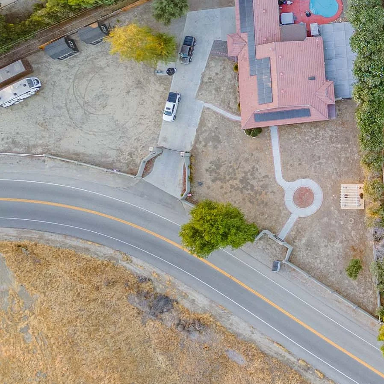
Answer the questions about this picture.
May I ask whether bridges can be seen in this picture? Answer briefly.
No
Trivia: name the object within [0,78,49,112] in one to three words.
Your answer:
vehicle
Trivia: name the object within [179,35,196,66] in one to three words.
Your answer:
vehicle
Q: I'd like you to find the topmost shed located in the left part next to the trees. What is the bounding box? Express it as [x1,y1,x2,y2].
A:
[78,20,110,45]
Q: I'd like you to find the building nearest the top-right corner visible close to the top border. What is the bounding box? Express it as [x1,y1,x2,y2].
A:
[226,0,337,128]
